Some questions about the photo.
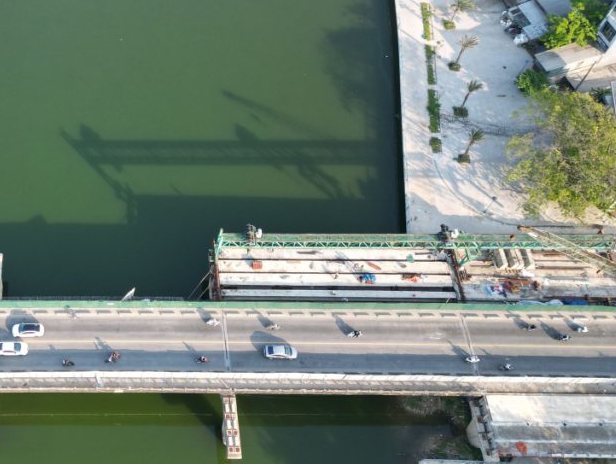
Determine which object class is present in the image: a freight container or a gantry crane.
gantry crane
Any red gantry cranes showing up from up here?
No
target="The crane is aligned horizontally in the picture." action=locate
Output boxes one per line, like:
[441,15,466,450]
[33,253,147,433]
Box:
[190,222,615,303]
